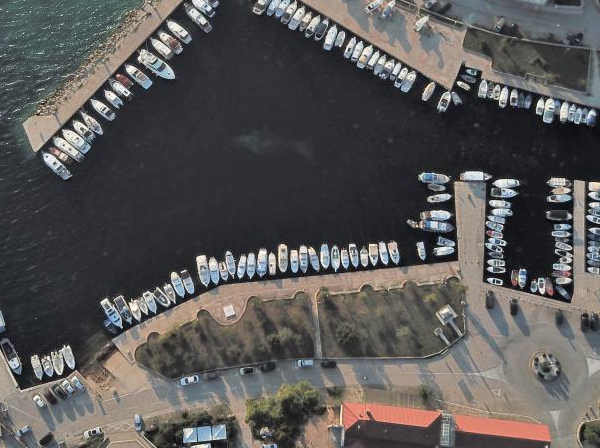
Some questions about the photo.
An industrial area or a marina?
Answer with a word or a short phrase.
marina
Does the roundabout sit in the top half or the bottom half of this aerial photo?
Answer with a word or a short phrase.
bottom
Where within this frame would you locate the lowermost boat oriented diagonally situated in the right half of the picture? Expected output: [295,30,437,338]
[554,283,571,300]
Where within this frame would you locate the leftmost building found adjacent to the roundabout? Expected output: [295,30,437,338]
[330,399,442,448]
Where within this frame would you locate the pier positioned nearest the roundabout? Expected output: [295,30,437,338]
[571,180,600,313]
